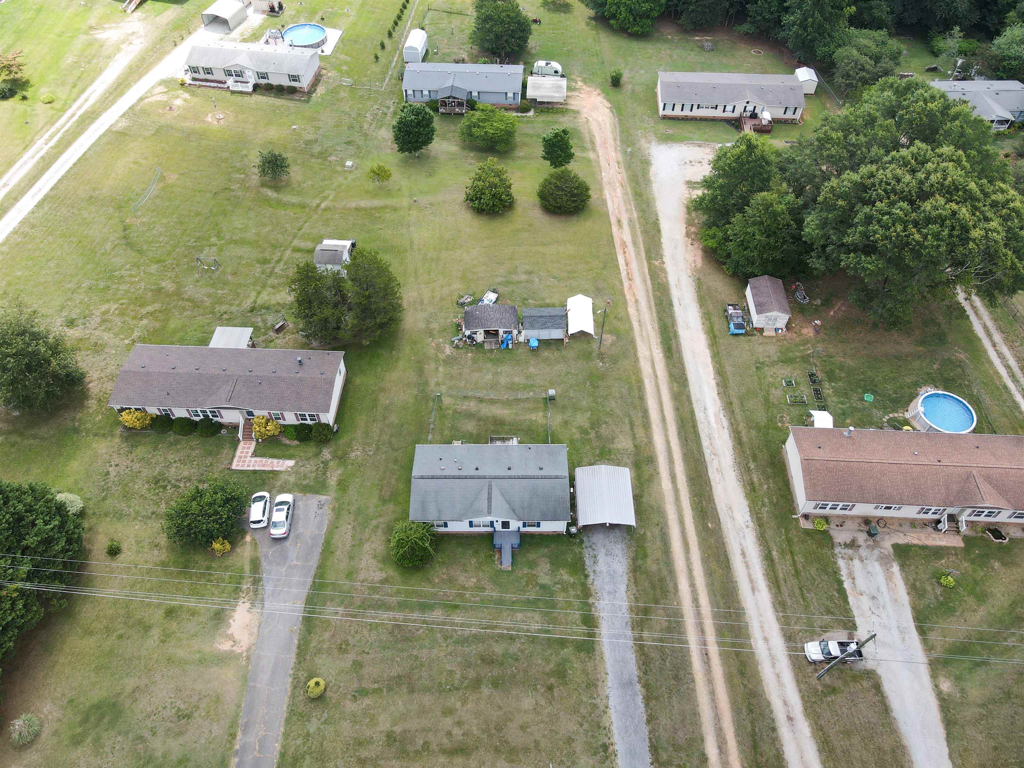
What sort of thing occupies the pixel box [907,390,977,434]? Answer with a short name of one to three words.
swimming pool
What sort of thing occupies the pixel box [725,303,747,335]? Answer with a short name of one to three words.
truck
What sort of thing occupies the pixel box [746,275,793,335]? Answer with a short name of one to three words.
shed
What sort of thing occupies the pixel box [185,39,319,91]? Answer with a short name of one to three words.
house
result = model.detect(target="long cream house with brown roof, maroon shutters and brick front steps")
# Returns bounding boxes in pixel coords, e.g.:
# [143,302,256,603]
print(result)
[107,345,345,441]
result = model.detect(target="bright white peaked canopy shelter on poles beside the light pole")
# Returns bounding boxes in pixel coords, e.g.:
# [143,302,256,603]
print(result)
[569,294,596,347]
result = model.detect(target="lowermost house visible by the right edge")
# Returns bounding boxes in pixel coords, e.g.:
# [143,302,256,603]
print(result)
[783,426,1024,534]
